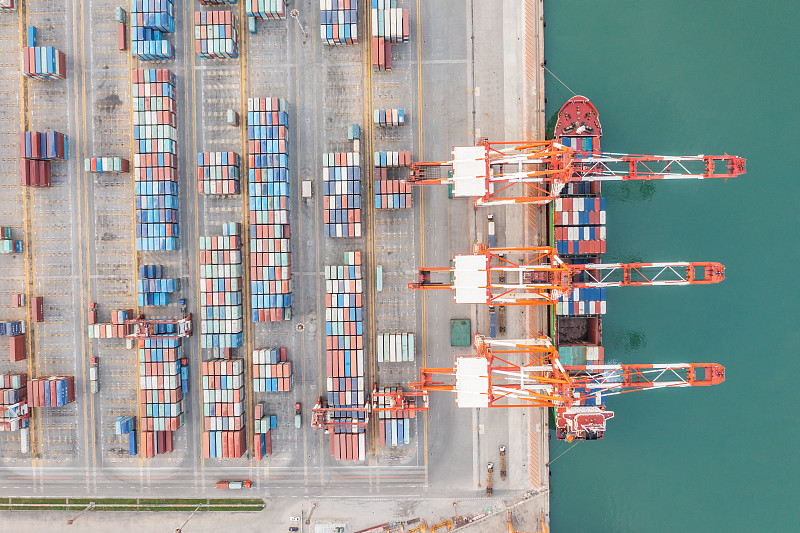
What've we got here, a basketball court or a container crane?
container crane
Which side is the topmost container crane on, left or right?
right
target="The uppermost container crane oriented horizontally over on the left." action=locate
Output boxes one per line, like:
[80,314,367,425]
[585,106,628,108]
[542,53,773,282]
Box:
[122,309,195,341]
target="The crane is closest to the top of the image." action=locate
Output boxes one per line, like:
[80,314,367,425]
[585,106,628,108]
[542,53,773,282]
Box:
[396,131,747,216]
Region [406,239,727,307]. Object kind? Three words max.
container crane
